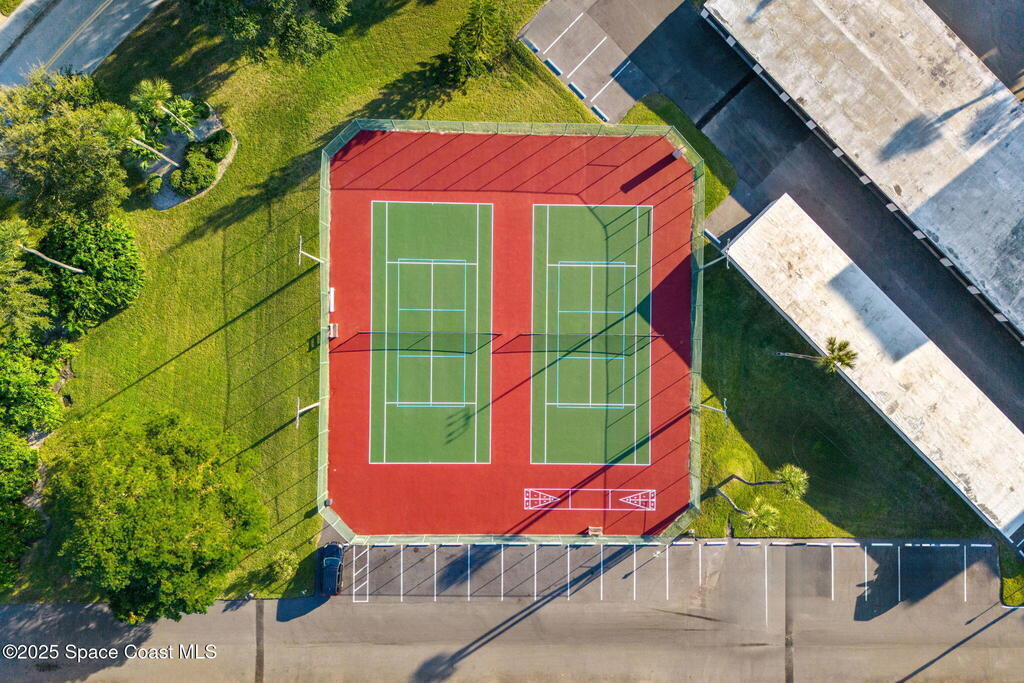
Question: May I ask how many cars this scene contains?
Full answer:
Just 1 car appears in this view.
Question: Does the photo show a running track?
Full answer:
No, there isn't any running track down there.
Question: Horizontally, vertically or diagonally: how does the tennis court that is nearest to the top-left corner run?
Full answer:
The tennis court that is nearest to the top-left corner is laid out vertically.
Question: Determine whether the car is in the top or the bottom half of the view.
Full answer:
The car is in the bottom half of the image.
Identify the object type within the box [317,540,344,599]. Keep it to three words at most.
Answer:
car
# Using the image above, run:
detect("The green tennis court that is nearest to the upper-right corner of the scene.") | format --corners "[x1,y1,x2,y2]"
[531,204,654,466]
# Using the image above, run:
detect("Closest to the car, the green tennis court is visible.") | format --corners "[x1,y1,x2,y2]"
[369,201,493,464]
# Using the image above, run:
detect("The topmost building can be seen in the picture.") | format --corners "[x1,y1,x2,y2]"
[699,0,1024,349]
